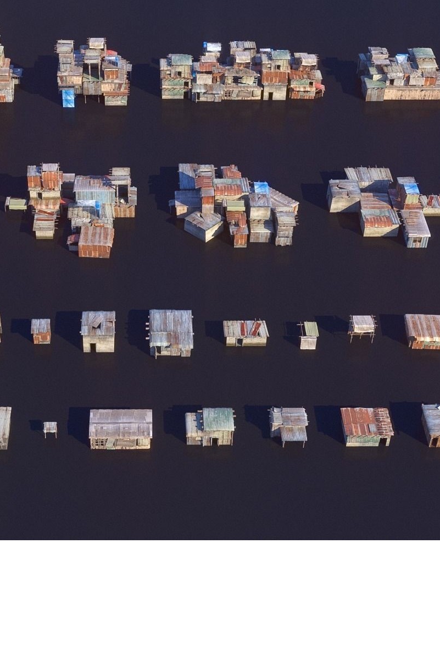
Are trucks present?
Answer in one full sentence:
No, no truck is visible in the view.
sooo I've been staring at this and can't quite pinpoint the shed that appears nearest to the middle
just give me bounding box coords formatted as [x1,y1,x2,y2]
[225,318,269,346]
